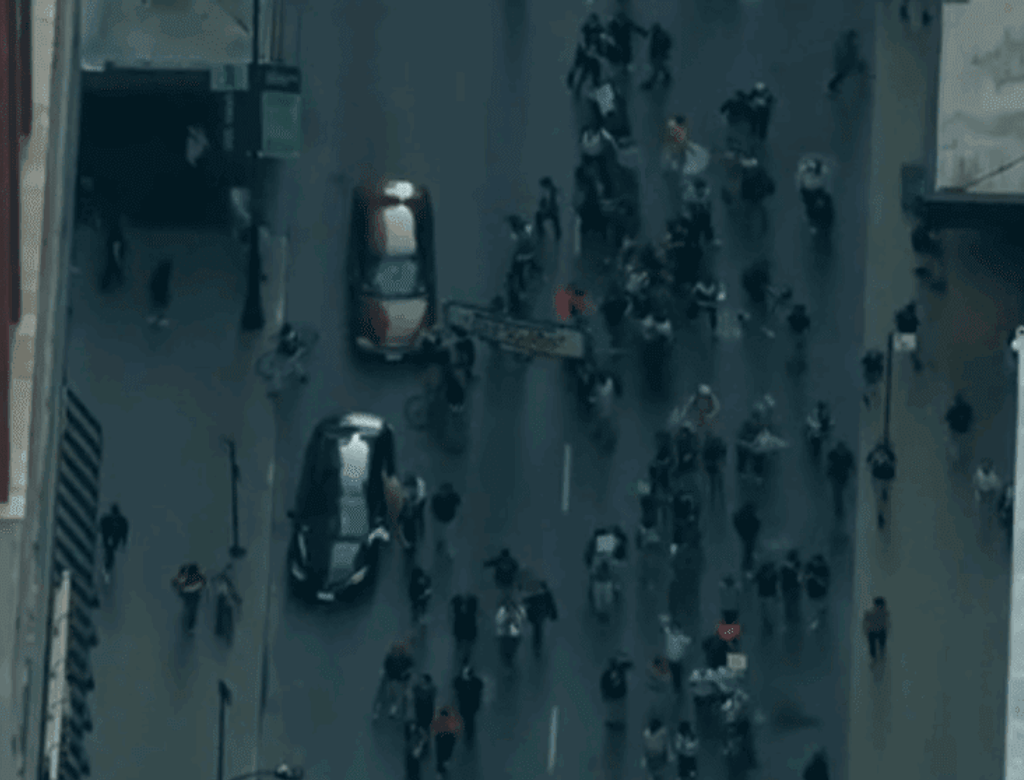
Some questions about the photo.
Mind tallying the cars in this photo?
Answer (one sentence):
The count of cars comes to 2.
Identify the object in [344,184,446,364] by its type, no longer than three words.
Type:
car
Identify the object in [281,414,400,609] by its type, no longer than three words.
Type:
car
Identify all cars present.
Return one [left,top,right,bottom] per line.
[281,414,400,609]
[344,184,446,364]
